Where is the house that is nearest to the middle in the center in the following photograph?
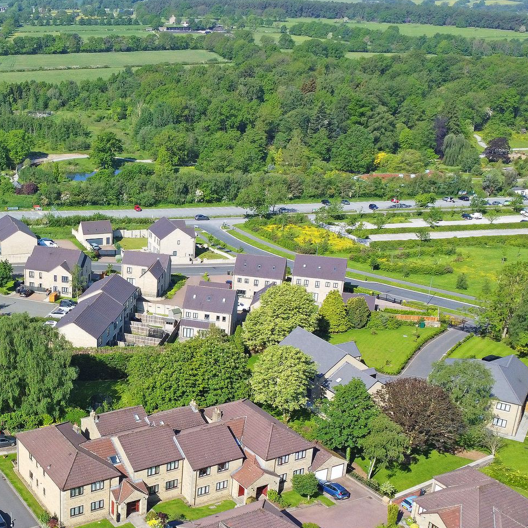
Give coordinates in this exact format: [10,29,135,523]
[232,253,286,293]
